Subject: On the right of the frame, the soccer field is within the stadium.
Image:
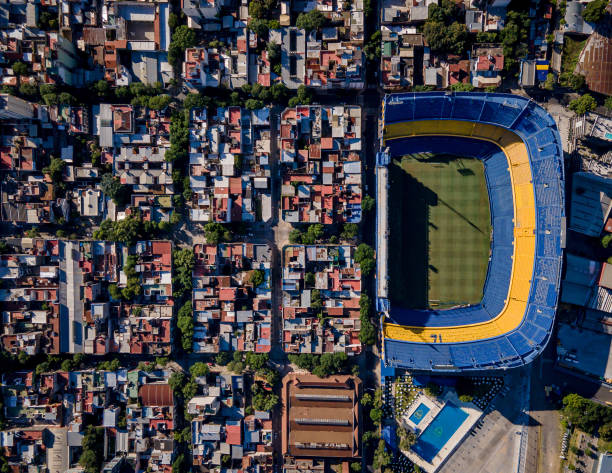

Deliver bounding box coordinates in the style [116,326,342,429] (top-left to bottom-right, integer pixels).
[390,155,491,309]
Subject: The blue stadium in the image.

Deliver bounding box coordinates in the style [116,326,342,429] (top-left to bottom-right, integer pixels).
[371,89,572,378]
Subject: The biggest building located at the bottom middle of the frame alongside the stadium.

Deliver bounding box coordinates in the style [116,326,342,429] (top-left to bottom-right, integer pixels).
[283,372,362,458]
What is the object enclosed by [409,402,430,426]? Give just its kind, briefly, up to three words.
swimming pool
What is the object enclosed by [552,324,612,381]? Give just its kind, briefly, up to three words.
building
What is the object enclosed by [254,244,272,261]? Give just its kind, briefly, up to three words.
building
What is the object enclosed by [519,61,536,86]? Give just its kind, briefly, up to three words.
house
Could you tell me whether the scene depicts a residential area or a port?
residential area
